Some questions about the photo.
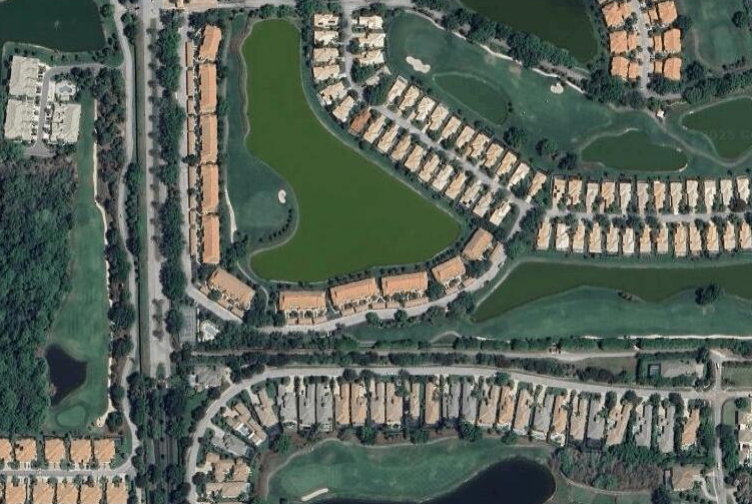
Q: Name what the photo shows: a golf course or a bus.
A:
golf course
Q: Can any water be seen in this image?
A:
Yes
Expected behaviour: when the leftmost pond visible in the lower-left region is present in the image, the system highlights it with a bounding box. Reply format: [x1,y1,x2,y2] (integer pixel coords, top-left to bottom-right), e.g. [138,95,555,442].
[45,345,88,405]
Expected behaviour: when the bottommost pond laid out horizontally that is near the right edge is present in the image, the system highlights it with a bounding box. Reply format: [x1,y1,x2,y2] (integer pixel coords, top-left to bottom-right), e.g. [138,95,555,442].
[474,261,752,321]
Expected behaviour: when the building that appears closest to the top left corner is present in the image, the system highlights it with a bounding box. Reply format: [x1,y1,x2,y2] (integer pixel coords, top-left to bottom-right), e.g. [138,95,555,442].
[7,54,40,98]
